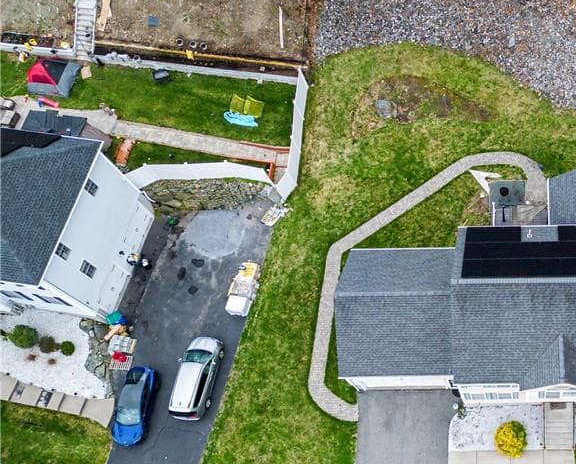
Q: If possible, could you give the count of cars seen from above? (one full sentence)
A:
Looking from above, you can make out 2 cars.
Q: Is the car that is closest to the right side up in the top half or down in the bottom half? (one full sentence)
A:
You can find the car that is closest to the right side in the bottom half.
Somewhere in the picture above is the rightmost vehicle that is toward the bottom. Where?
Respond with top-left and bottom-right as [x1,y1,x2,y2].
[171,337,228,421]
